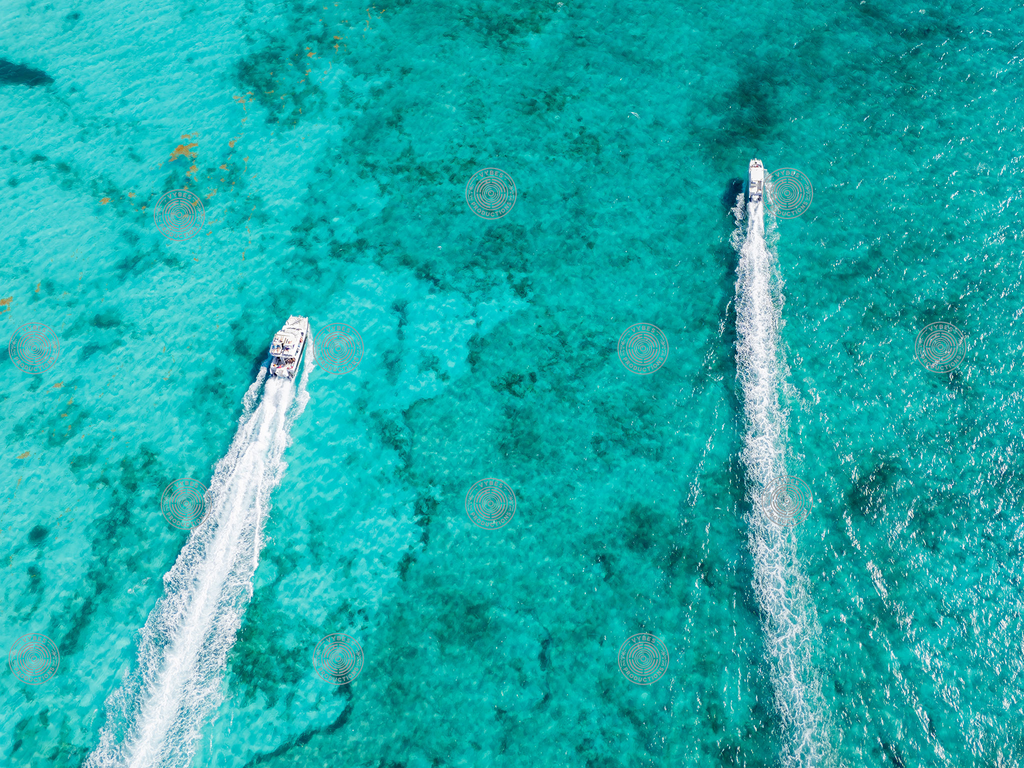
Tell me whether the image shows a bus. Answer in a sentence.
No, there is no bus in the image.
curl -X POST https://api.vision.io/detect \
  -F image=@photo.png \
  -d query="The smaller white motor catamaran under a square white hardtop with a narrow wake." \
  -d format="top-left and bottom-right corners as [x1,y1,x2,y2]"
[748,157,765,204]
